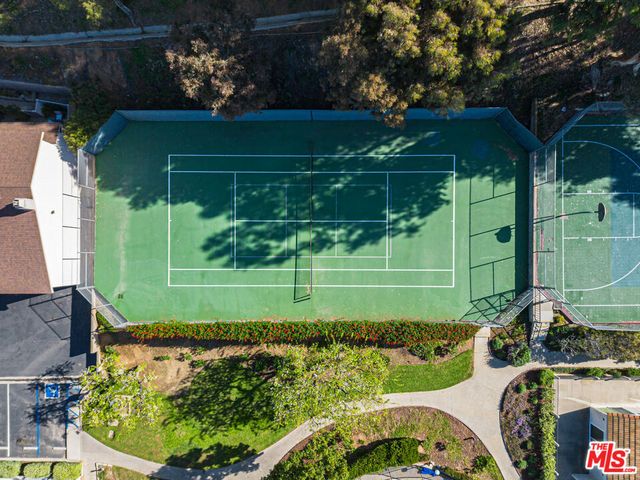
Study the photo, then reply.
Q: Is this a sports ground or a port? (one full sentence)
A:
This image shows a sports ground.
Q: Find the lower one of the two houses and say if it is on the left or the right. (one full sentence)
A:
The lower one of the two houses sits on the right side.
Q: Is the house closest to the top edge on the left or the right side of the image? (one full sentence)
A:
You can find the house closest to the top edge on the left side of the picture.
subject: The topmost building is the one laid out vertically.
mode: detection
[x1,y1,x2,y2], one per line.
[0,121,74,296]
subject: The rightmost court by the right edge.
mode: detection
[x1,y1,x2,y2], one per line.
[536,114,640,322]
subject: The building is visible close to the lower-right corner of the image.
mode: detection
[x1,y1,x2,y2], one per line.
[566,407,640,480]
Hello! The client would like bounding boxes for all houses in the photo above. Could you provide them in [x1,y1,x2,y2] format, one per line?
[566,407,640,480]
[0,121,74,296]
